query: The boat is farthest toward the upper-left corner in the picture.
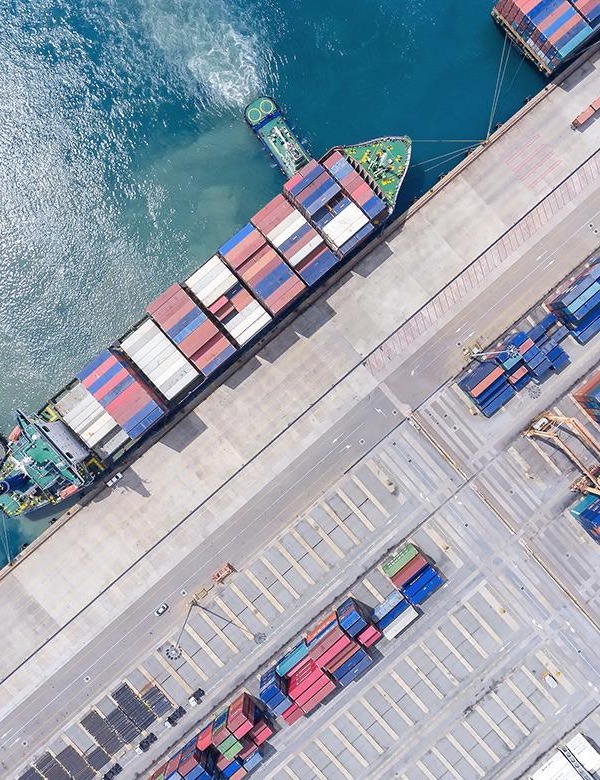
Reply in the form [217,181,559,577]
[244,98,311,181]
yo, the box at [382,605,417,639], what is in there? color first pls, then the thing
white shipping container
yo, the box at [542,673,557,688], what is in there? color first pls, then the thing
white vehicle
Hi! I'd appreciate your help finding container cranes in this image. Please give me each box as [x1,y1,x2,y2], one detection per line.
[522,411,600,498]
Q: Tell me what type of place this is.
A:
port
